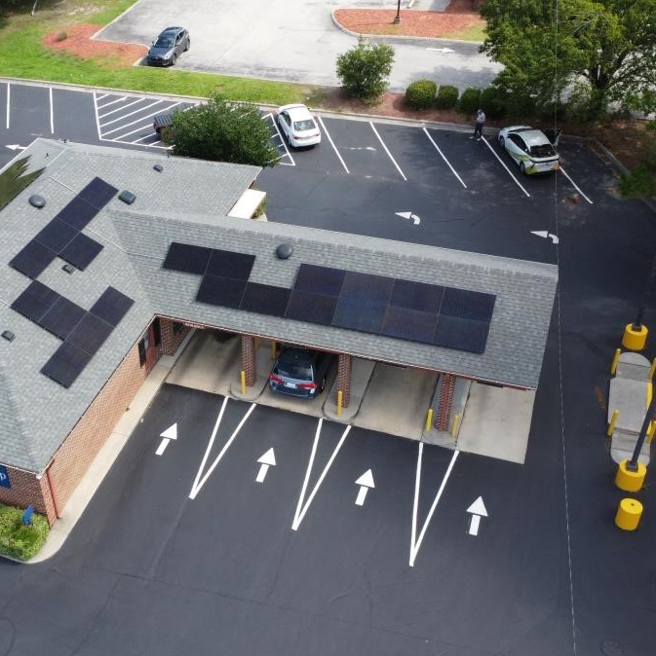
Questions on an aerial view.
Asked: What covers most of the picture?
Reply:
paved ground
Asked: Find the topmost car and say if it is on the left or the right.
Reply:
left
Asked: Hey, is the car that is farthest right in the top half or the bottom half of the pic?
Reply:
top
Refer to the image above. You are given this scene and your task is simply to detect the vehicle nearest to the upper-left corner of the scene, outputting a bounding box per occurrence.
[148,25,187,61]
